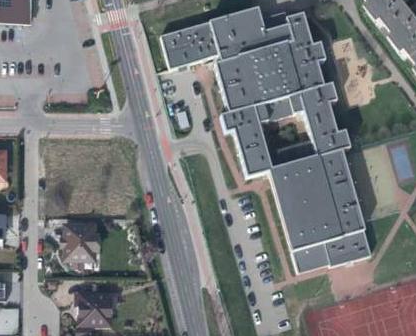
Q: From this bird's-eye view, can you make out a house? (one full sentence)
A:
Yes, a house is visible in the scene.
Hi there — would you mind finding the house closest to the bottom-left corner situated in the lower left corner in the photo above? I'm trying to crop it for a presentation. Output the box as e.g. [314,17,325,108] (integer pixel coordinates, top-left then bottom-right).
[0,307,19,336]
